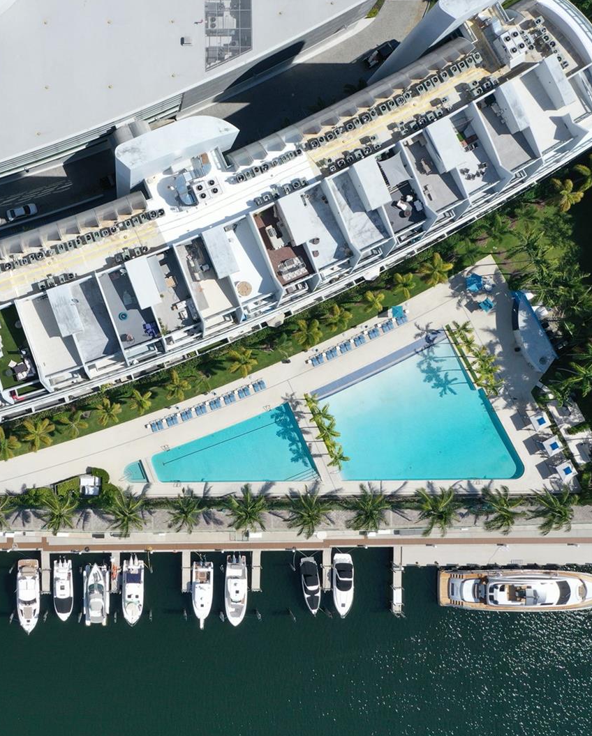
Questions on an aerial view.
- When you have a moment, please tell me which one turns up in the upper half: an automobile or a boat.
automobile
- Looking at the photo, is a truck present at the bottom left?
No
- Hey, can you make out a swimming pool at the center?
Yes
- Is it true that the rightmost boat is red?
No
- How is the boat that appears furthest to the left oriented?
from top to bottom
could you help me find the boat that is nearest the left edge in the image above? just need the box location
[16,559,40,636]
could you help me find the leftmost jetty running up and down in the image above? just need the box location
[38,552,53,595]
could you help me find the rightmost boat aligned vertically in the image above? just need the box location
[333,554,354,619]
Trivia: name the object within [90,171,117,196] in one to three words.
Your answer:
car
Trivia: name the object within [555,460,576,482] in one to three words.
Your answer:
umbrella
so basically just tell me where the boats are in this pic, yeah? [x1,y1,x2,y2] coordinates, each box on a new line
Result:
[192,554,214,629]
[122,557,144,626]
[434,568,592,612]
[300,557,321,617]
[333,554,354,619]
[53,558,74,622]
[225,553,247,627]
[16,559,40,636]
[86,563,106,624]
